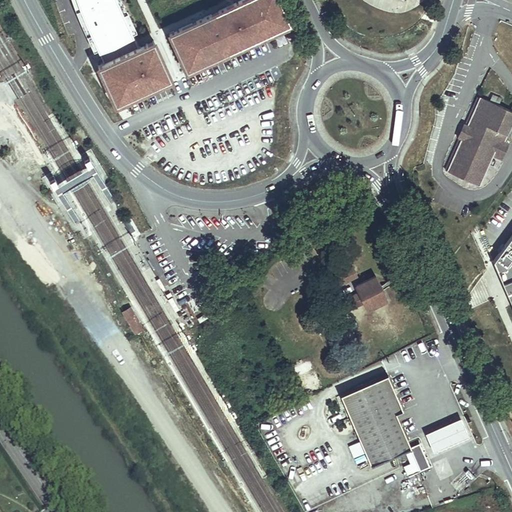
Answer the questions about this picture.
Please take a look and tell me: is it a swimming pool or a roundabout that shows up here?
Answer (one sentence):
Of the two, only a roundabout appears.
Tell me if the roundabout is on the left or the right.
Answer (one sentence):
You can find the roundabout on the right side of the picture.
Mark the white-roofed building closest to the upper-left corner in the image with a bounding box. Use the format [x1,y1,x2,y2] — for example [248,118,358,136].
[70,0,139,56]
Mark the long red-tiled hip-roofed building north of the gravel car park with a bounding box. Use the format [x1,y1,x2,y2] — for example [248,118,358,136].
[170,0,292,76]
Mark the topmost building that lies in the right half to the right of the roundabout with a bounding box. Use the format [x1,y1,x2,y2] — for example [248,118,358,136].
[448,92,512,186]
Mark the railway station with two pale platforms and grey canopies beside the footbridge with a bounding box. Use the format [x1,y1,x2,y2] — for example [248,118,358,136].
[60,148,170,310]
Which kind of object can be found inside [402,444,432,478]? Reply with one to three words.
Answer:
building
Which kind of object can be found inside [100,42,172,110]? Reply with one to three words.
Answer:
building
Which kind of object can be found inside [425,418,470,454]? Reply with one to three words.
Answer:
shed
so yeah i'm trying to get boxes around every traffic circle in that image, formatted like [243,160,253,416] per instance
[298,48,414,175]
